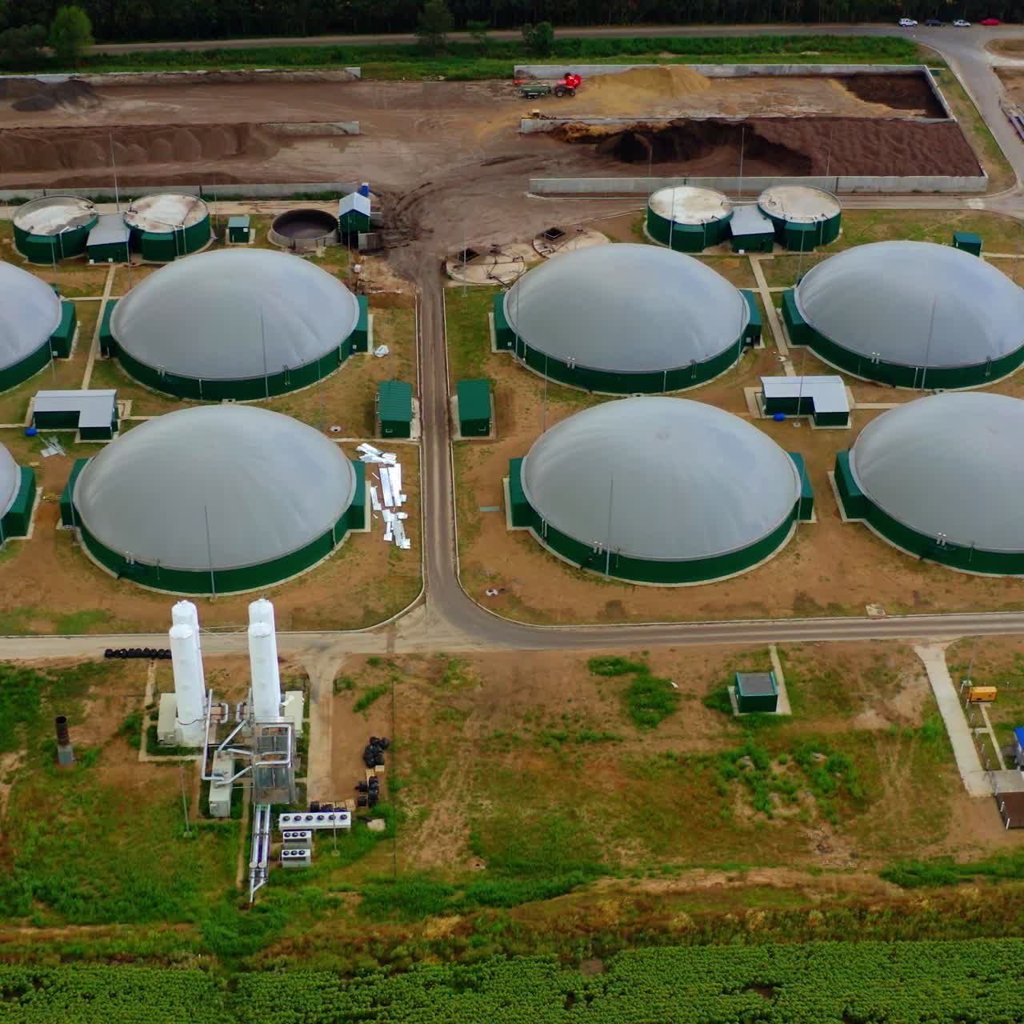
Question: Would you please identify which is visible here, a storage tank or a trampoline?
storage tank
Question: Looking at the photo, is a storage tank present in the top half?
Yes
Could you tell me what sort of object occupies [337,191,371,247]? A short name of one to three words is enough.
house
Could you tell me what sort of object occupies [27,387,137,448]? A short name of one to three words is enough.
shed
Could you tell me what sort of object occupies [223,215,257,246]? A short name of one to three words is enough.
shed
